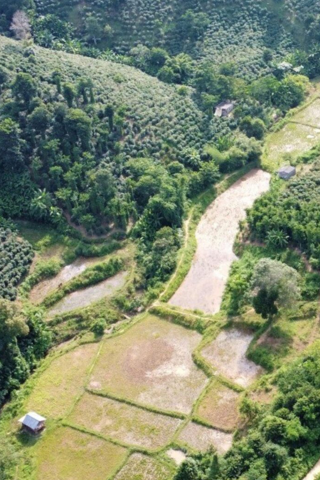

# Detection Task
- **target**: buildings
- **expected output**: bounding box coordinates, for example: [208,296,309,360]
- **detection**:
[16,411,44,438]
[214,103,237,119]
[275,167,297,182]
